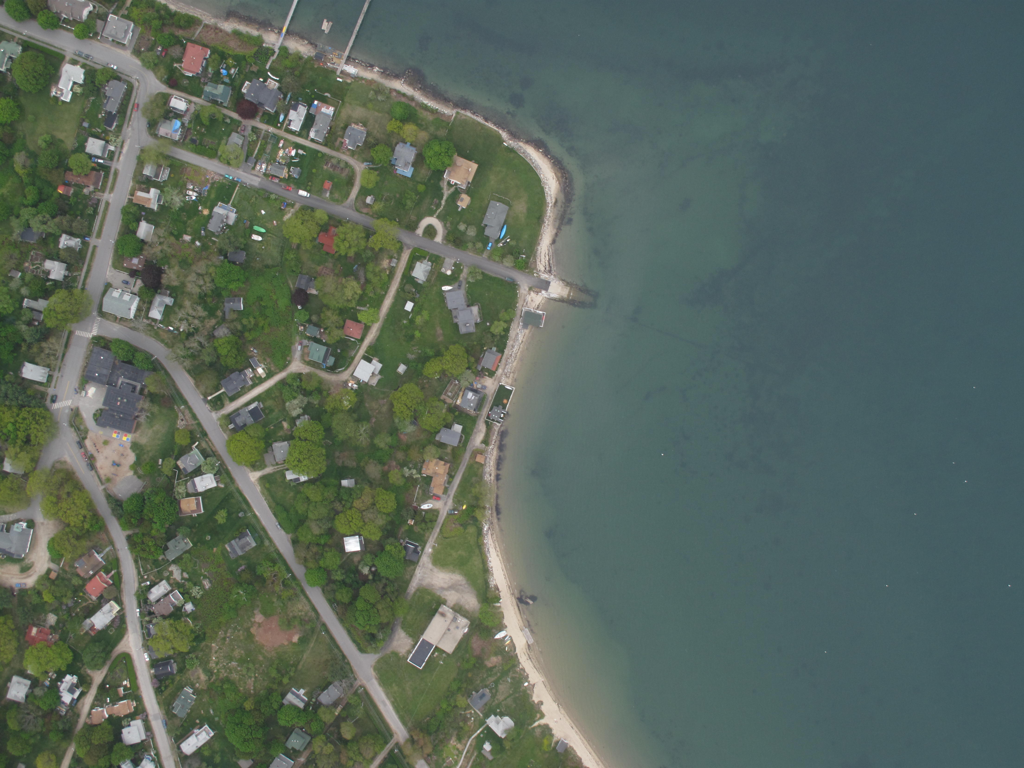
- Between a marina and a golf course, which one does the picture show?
marina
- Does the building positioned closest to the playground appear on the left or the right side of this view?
left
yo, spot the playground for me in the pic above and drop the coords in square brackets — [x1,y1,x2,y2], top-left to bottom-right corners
[84,430,135,482]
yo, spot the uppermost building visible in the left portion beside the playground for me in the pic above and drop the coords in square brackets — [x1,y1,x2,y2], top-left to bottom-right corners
[85,348,156,433]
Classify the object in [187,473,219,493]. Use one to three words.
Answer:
house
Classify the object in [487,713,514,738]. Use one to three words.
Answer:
house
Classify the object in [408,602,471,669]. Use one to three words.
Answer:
building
